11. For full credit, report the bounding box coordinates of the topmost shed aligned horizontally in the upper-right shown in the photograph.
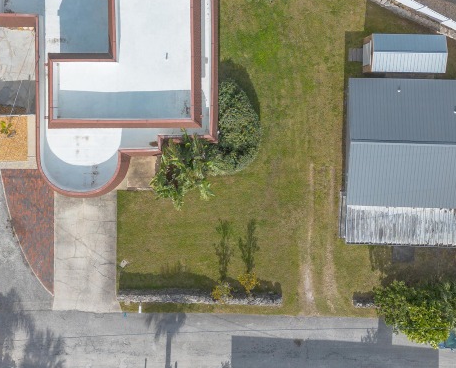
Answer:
[364,34,448,74]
